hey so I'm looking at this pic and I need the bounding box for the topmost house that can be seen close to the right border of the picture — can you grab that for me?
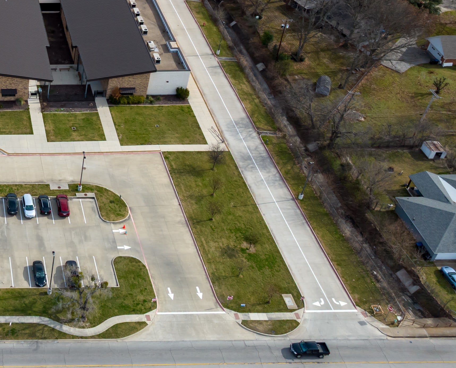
[422,34,456,68]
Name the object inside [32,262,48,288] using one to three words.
car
